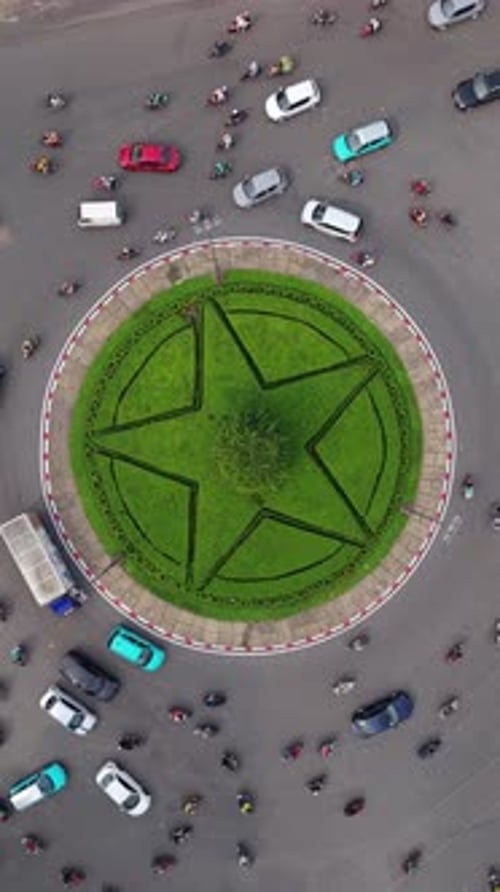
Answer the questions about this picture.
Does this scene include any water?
No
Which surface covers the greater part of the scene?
paved ground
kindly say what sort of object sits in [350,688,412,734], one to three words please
car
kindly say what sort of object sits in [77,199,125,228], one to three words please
van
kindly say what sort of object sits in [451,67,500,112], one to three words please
car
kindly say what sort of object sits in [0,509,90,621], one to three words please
truck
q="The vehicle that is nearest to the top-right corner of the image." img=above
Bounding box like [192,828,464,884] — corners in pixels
[426,0,490,31]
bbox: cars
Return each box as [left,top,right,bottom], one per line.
[105,625,166,671]
[301,199,364,242]
[332,116,395,164]
[56,649,122,699]
[119,139,182,174]
[426,0,490,31]
[95,758,153,814]
[266,78,322,124]
[350,688,412,734]
[451,67,500,112]
[233,166,290,209]
[5,758,70,814]
[40,683,99,733]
